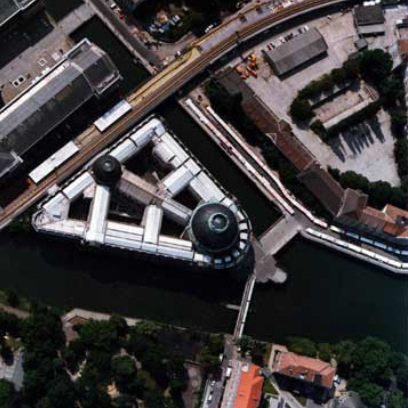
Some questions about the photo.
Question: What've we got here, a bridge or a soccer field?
bridge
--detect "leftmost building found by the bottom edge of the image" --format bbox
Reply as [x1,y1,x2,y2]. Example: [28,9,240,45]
[223,359,264,408]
